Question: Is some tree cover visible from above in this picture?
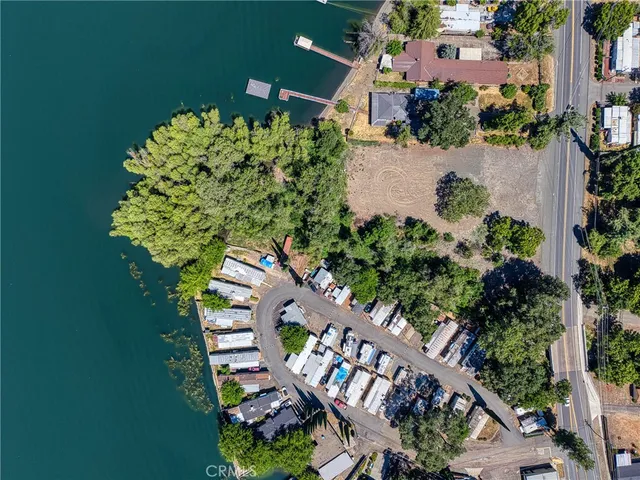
Yes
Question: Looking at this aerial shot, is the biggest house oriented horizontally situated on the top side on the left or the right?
right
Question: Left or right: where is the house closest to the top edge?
right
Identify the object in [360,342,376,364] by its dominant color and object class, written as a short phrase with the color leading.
white camper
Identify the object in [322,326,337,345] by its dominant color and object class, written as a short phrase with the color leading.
white camper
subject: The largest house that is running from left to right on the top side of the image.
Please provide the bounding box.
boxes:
[392,39,509,86]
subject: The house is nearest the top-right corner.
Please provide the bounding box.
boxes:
[611,22,640,74]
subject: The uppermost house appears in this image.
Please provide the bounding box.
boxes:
[438,4,481,36]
